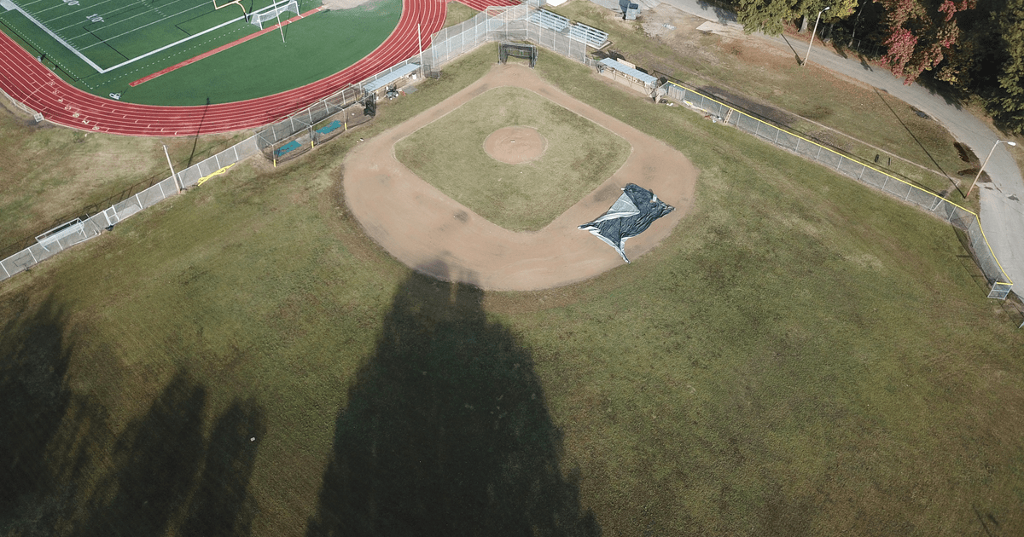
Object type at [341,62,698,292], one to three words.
baseball field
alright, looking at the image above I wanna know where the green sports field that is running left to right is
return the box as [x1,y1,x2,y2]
[0,0,402,105]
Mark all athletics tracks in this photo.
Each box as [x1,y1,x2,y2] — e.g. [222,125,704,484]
[0,0,529,138]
